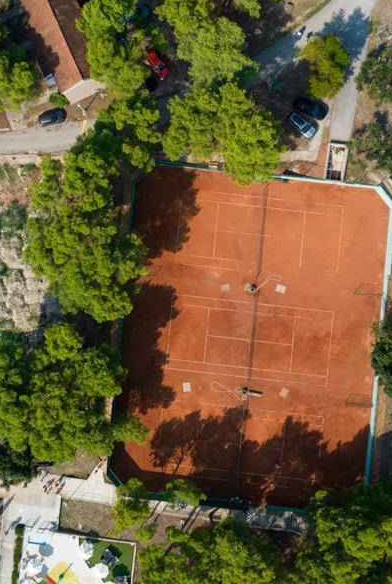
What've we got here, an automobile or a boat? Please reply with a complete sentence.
It is an automobile that can be seen here.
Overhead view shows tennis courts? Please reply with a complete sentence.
Yes, there is a tennis court in the image.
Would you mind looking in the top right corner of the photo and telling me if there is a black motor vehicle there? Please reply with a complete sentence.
Yes, you'll find a black motor vehicle in the top right corner of the photo.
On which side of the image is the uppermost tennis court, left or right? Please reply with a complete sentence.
You can find the uppermost tennis court on the right side of the picture.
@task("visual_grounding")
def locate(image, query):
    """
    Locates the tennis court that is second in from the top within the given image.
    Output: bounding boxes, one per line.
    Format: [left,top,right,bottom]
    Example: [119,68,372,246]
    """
[115,260,387,392]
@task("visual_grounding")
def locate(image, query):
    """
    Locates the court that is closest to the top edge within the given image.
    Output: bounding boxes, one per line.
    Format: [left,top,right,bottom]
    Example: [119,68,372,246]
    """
[130,163,392,288]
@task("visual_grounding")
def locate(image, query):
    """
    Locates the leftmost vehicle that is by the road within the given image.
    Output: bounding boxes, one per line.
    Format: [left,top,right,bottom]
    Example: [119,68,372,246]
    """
[35,108,65,126]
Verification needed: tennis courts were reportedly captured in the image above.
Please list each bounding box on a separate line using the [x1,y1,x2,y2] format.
[109,365,378,509]
[115,260,387,392]
[130,163,392,288]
